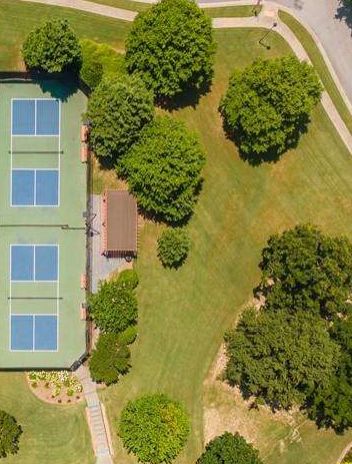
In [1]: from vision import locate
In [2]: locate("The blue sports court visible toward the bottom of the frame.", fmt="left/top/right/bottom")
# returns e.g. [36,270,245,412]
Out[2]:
[5,244,62,350]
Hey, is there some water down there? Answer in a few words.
No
